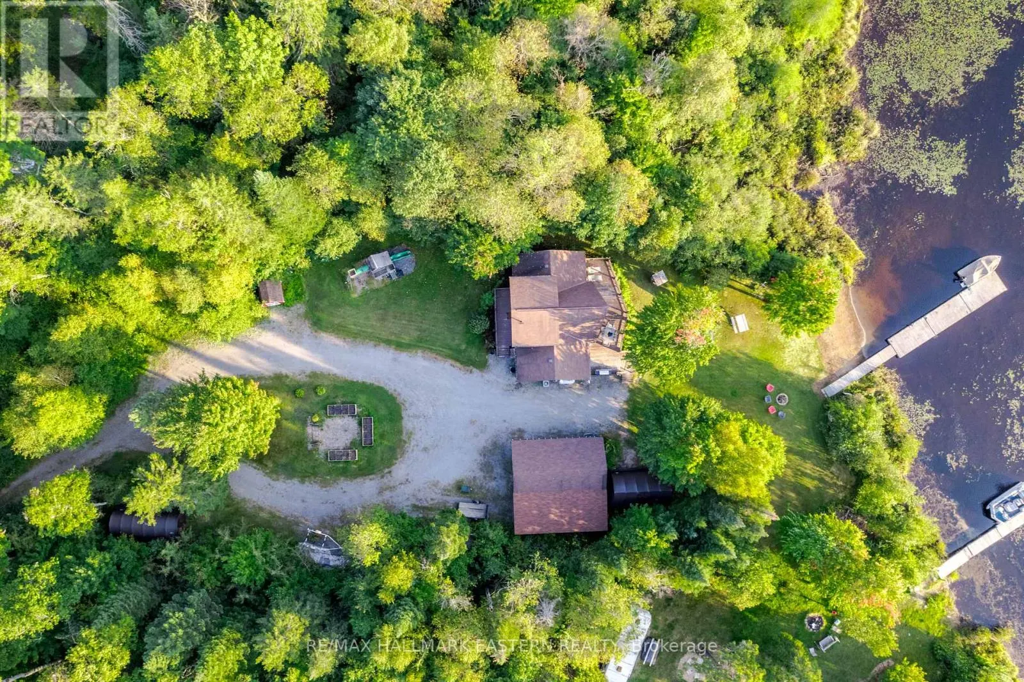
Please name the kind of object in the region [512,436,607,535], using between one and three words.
building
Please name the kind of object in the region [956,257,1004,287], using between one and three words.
boat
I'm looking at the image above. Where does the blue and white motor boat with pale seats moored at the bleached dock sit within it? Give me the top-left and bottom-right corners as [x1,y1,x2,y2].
[994,481,1024,519]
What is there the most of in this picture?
trees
